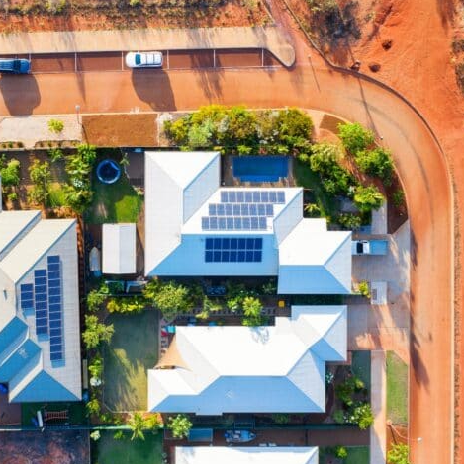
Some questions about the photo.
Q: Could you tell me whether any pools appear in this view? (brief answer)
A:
Yes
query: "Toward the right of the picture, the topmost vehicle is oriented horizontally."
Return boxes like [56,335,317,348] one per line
[352,239,391,258]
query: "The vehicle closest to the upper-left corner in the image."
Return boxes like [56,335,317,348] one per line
[0,57,31,75]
